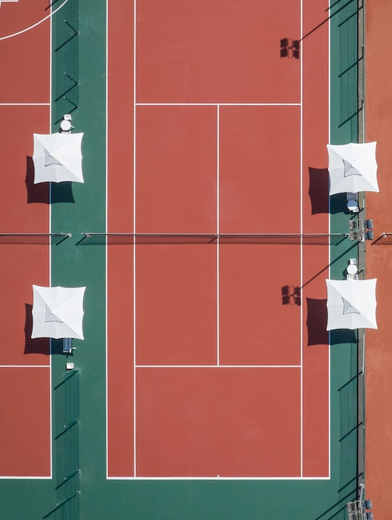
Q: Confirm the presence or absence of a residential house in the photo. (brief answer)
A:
No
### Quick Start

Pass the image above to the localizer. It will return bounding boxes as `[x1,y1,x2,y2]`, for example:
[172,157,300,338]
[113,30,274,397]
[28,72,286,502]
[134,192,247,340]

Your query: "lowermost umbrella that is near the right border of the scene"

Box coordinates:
[326,279,377,331]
